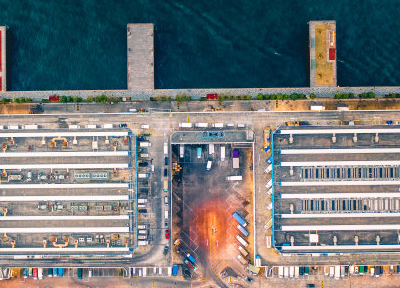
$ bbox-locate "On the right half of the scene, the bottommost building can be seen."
[272,125,400,256]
